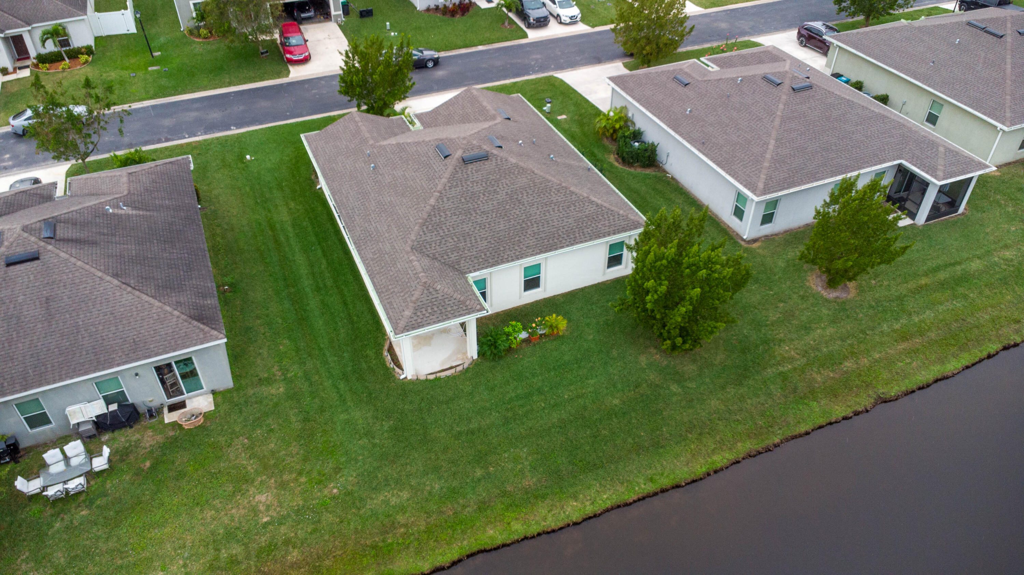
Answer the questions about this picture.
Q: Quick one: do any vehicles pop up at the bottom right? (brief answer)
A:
No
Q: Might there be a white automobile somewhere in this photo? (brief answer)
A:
Yes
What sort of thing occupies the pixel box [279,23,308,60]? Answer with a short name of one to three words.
car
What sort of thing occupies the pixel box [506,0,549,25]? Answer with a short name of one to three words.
truck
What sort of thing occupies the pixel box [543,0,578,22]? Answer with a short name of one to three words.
car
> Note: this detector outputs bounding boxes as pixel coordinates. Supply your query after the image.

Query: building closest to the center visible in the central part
[301,89,649,384]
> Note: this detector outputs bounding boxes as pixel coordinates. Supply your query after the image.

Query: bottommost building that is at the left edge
[0,154,233,448]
